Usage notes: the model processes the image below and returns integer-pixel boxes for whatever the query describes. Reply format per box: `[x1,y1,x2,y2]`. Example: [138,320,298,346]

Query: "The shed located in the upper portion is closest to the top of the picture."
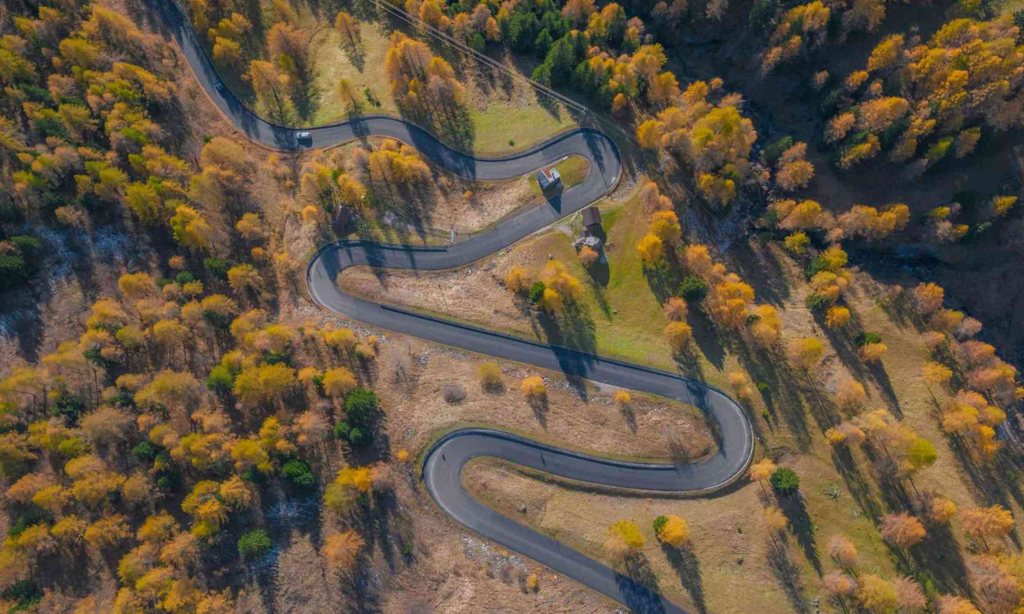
[535,170,561,196]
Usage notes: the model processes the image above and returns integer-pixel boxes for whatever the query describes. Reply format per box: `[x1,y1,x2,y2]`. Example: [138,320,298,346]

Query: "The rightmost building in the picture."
[582,208,602,233]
